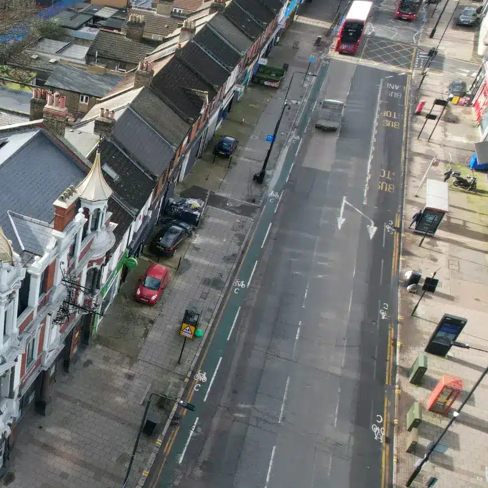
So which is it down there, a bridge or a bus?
bus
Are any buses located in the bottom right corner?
No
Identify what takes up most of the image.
paved ground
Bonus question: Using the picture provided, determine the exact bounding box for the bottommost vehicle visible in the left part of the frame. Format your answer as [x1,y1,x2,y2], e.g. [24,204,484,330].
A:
[136,260,171,302]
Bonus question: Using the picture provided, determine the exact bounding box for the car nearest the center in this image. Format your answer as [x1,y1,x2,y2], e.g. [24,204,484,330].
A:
[151,220,194,257]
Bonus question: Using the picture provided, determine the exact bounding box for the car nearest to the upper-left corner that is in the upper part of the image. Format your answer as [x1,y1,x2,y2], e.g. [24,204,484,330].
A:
[213,136,241,159]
